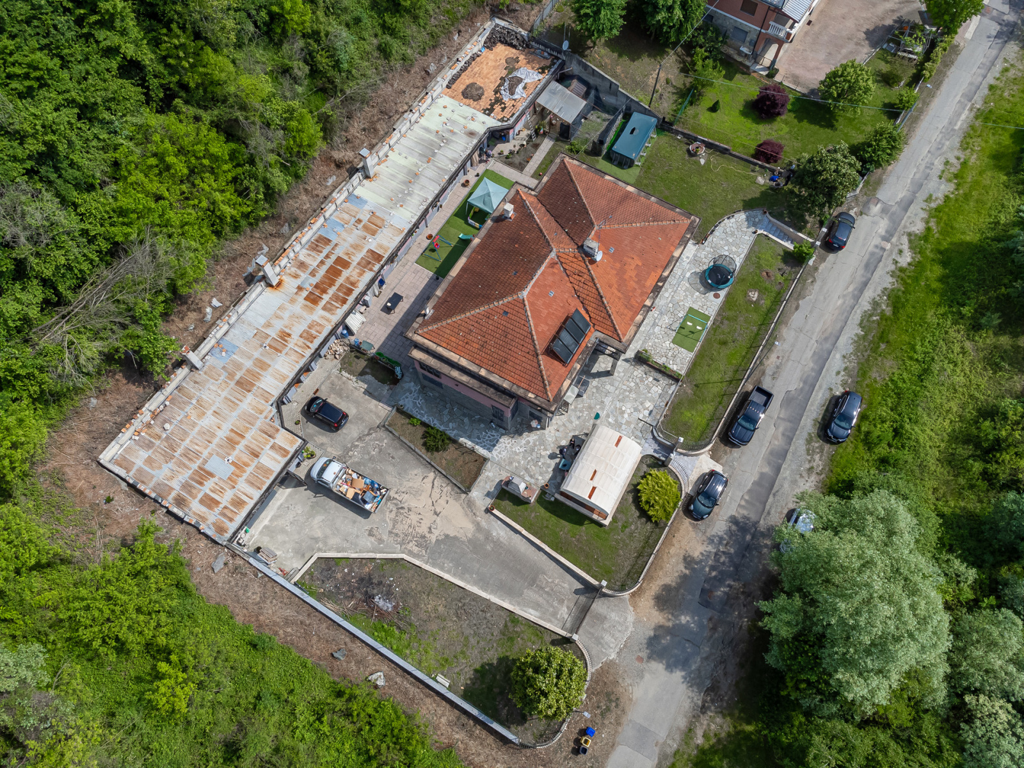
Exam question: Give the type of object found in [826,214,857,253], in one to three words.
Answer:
car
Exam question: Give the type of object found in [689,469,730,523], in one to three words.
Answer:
car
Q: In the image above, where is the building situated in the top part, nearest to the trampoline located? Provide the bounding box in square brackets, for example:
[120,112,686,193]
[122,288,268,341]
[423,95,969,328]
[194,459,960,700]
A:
[408,152,700,432]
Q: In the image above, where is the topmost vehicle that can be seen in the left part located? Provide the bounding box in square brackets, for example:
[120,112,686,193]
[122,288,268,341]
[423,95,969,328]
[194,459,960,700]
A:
[306,399,349,430]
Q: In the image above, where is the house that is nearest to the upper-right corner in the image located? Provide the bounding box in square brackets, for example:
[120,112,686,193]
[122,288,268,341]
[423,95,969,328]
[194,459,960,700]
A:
[701,0,812,74]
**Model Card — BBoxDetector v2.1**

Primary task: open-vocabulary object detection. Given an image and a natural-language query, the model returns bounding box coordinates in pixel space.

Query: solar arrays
[541,308,592,365]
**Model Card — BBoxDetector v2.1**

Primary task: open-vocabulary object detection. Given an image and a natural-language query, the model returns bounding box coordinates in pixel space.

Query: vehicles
[728,384,777,449]
[310,456,390,514]
[306,399,349,430]
[826,214,857,253]
[689,469,730,523]
[826,390,865,444]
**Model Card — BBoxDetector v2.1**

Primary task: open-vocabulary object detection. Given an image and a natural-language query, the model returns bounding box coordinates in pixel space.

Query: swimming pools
[611,112,657,167]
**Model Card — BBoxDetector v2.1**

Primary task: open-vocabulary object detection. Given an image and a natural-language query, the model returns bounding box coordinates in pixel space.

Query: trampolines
[706,255,740,291]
